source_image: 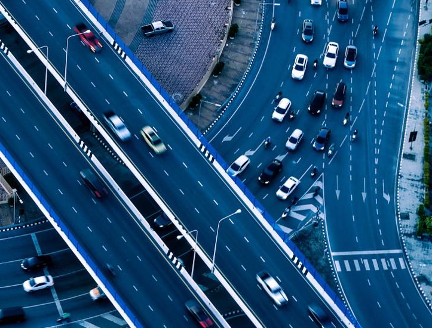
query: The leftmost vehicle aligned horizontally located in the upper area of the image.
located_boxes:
[140,20,175,37]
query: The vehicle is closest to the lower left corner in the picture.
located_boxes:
[0,305,25,323]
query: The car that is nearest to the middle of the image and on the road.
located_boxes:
[232,155,250,174]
